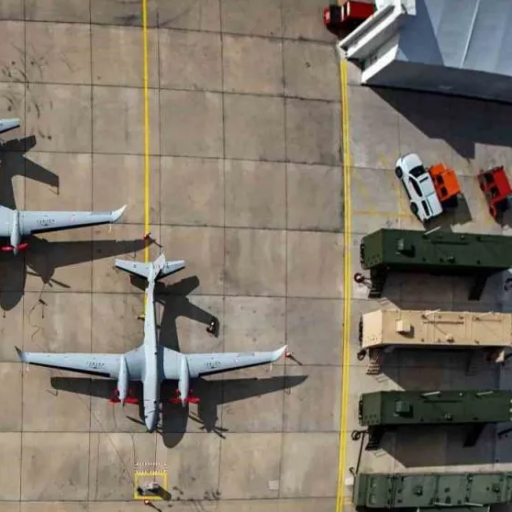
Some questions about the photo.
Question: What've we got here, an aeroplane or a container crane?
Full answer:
I can see an aeroplane in this picture.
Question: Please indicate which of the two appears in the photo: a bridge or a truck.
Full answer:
Of the two, only a truck appears.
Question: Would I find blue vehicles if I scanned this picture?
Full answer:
No, no blue vehicle is visible in the scene.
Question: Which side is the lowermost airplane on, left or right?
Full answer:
The lowermost airplane is on the left side of the image.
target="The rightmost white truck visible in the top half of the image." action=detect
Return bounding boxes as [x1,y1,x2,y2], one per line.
[396,153,447,220]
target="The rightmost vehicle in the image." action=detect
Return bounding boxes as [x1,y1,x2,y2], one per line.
[473,169,512,224]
